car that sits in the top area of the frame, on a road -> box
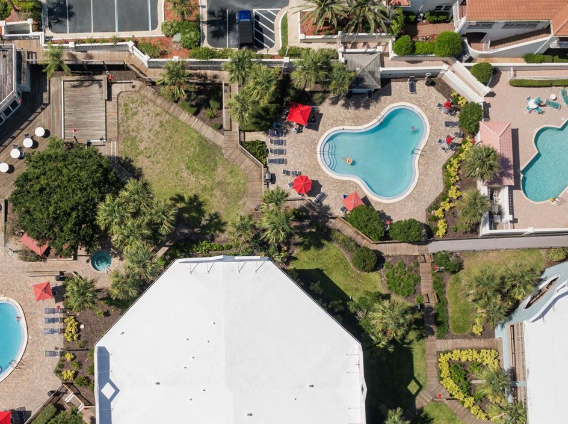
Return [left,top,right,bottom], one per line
[235,11,254,51]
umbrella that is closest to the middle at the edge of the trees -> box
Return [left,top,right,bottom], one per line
[293,176,311,193]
